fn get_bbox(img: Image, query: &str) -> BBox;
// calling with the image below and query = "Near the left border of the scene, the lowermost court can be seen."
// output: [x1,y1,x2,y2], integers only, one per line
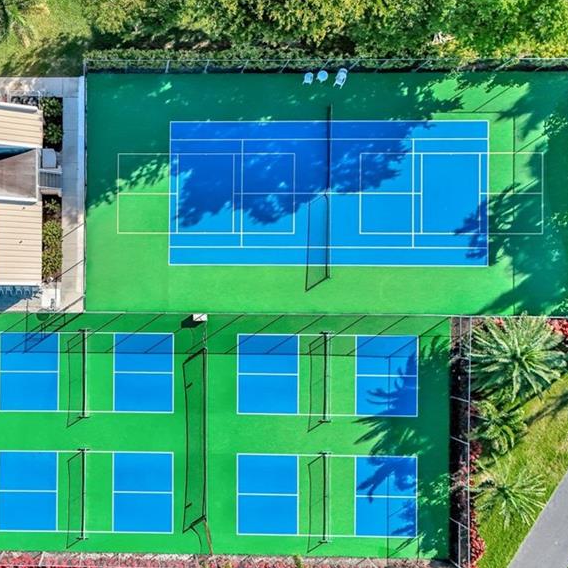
[0,432,202,556]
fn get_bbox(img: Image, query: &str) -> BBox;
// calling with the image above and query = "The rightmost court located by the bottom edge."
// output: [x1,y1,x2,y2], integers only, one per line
[202,432,452,561]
